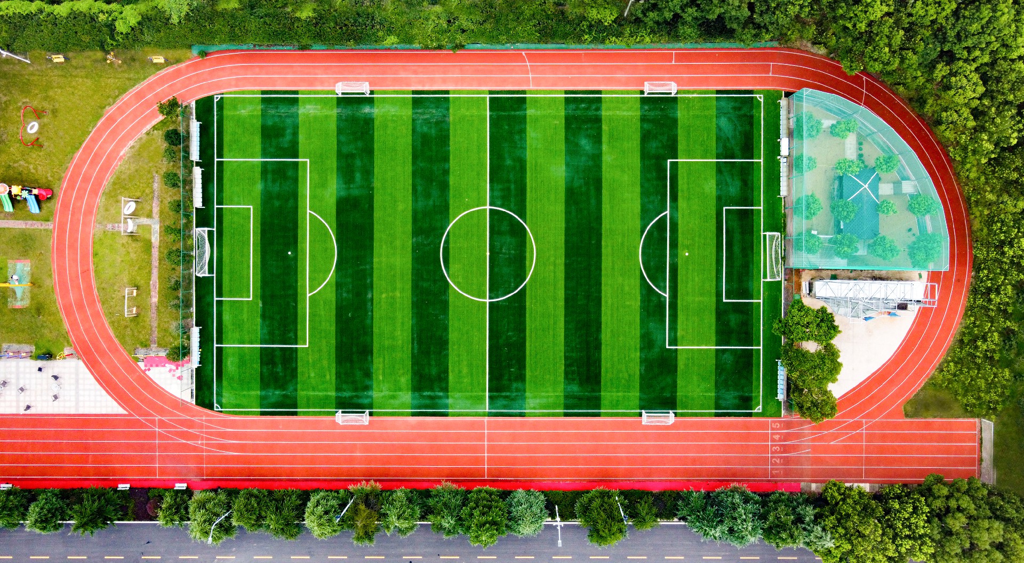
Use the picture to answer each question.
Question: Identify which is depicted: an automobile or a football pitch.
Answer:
football pitch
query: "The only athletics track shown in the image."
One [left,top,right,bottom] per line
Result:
[0,48,980,484]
